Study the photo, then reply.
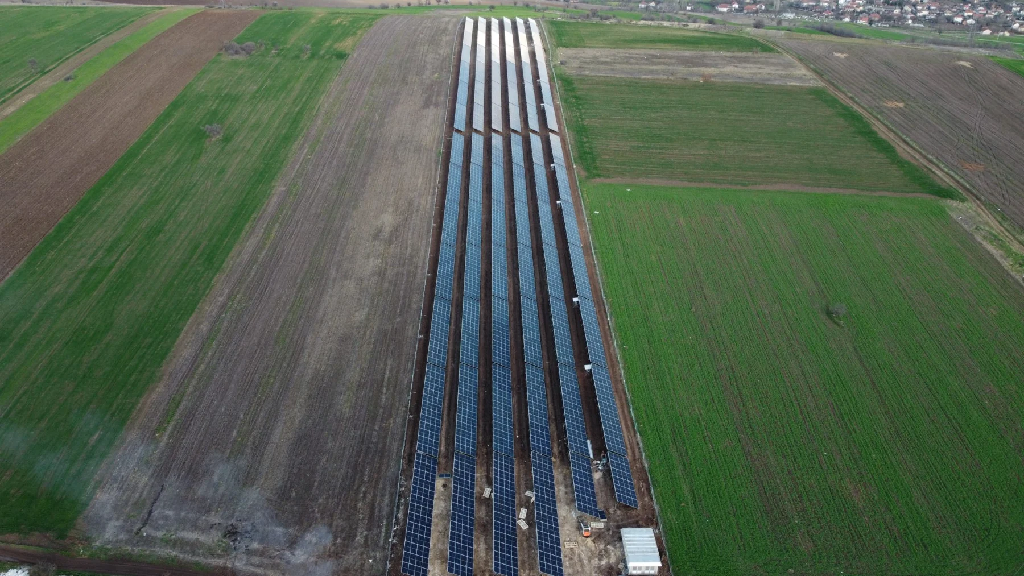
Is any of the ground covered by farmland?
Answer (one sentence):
Yes, farmland can be seen from above here.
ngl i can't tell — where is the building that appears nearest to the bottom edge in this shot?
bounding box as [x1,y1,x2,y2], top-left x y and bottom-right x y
[622,529,661,576]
